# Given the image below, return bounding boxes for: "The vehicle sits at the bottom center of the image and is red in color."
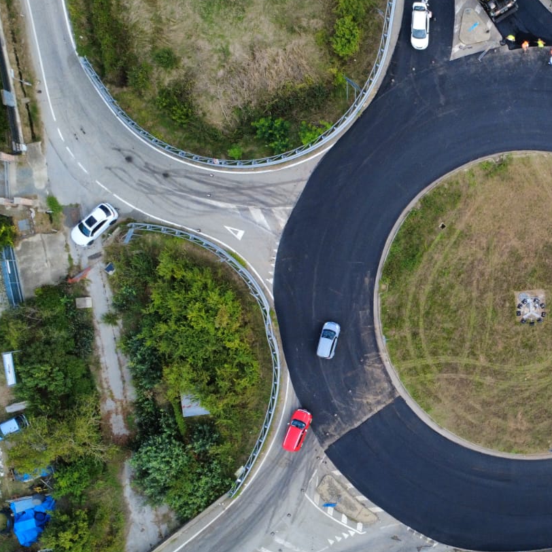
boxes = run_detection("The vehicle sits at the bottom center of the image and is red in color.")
[282,409,312,453]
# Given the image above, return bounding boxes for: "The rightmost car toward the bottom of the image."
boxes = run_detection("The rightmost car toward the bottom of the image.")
[316,322,341,360]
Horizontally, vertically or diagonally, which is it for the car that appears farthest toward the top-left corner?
diagonally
